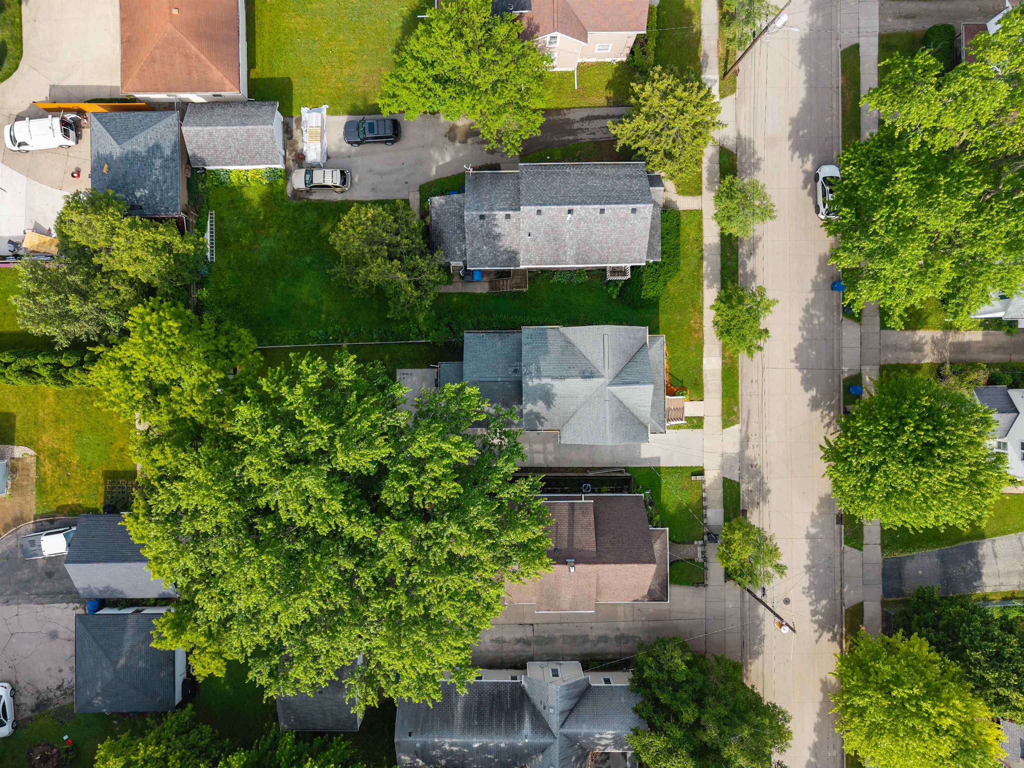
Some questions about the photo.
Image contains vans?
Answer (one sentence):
Yes, looking at the shot, I can spot a van.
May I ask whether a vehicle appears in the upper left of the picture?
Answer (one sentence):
Yes, you'll find a vehicle in the upper left of the picture.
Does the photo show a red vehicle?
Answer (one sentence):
No, the picture doesn't show any red vehicle.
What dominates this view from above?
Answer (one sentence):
Most of the picture is covered by trees.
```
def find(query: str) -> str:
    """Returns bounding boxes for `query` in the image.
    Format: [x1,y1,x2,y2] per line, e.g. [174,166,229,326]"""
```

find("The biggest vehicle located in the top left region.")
[5,113,88,154]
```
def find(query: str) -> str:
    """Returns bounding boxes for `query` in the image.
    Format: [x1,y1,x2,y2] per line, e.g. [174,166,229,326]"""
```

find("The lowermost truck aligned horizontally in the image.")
[20,524,77,558]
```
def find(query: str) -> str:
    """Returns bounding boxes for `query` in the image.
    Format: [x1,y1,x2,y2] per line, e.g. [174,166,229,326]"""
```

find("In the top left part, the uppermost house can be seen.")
[119,0,248,102]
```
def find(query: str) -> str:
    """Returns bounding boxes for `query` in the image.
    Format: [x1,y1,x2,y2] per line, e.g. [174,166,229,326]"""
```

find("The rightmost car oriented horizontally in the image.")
[343,118,402,147]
